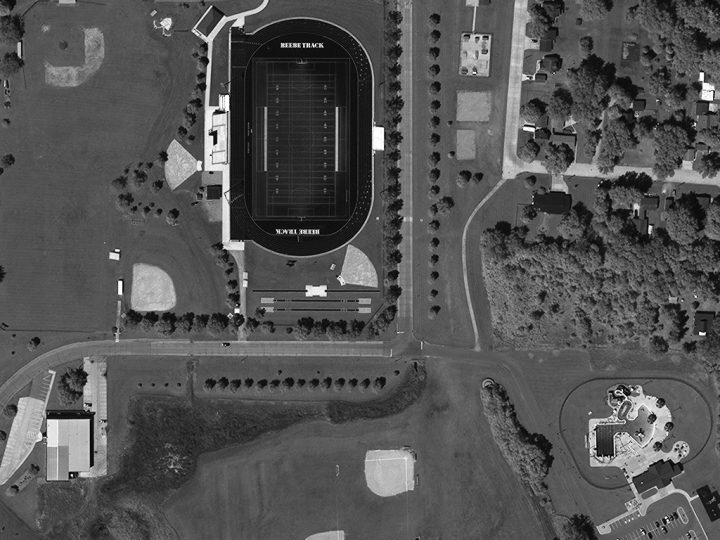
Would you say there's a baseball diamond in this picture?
Yes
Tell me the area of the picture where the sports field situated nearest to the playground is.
top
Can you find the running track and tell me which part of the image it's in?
top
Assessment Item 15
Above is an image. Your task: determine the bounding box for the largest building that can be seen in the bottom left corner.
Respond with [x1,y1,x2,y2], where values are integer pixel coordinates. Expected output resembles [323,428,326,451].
[46,416,90,480]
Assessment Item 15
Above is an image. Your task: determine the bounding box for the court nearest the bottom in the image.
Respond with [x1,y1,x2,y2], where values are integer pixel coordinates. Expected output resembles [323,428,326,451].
[456,130,476,160]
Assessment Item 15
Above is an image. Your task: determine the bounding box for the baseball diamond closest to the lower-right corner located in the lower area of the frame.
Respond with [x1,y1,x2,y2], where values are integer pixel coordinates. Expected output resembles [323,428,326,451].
[365,449,414,508]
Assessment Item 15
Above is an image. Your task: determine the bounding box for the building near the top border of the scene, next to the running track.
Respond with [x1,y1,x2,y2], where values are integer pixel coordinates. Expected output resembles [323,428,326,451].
[196,6,224,37]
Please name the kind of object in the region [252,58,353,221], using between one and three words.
sports field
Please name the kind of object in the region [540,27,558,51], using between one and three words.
house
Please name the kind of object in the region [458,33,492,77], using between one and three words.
playground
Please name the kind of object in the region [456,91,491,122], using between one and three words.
sports court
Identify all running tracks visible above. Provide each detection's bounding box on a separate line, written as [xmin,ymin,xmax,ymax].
[229,16,375,259]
